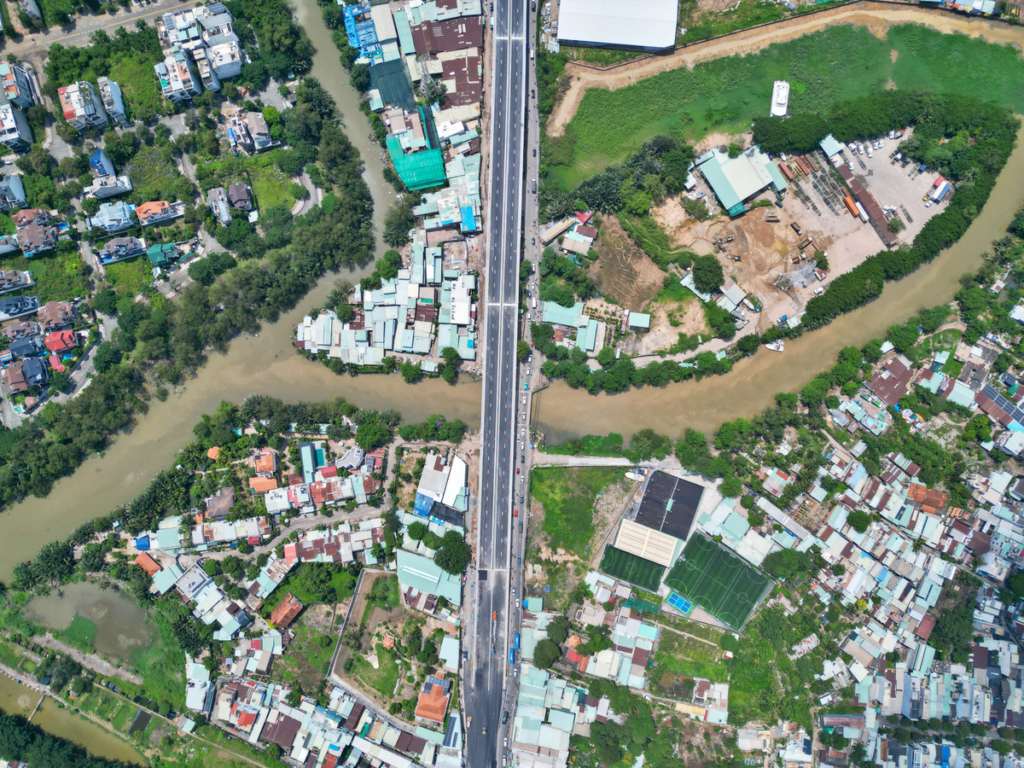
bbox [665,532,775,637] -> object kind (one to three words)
soccer field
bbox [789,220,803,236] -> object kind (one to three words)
vehicle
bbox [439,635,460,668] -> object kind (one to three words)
house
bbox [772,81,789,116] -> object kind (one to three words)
boat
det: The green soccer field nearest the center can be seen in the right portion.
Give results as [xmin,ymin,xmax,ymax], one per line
[598,544,665,592]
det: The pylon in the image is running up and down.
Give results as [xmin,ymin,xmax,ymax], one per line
[410,52,442,108]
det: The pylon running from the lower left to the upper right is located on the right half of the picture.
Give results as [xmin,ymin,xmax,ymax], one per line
[769,261,823,299]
